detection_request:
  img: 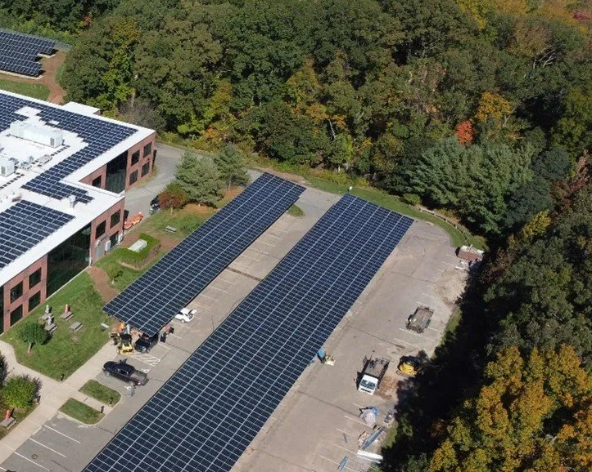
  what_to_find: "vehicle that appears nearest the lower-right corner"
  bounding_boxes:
[398,355,436,376]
